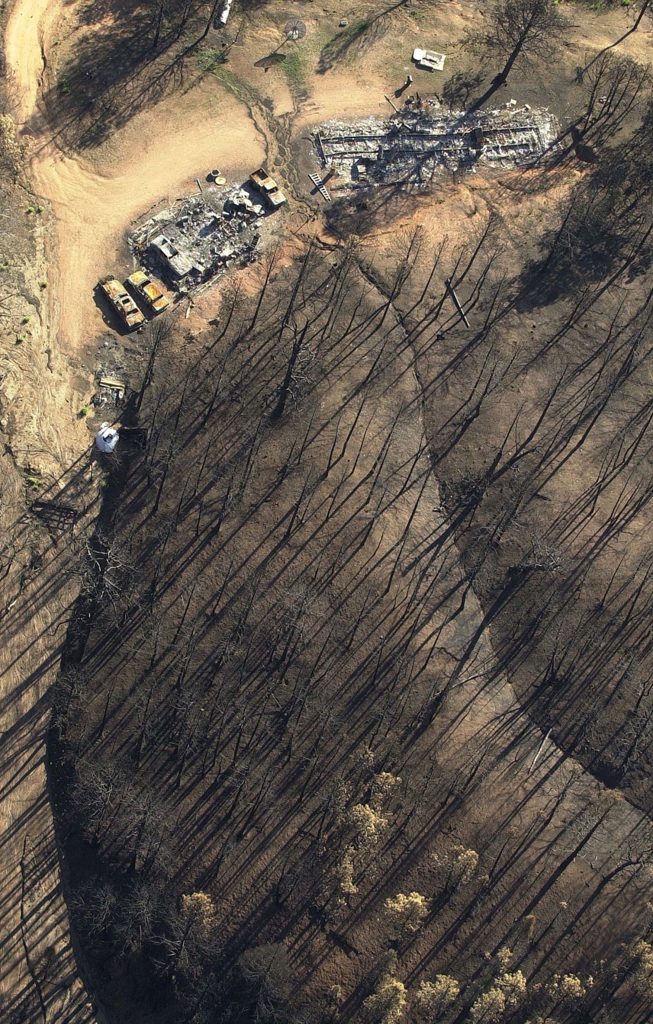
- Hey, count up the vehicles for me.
four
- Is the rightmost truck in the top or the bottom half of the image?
top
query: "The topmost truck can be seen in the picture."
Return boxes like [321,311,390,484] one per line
[248,166,287,207]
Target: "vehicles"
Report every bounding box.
[248,166,287,207]
[149,234,195,280]
[100,279,145,329]
[127,271,168,315]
